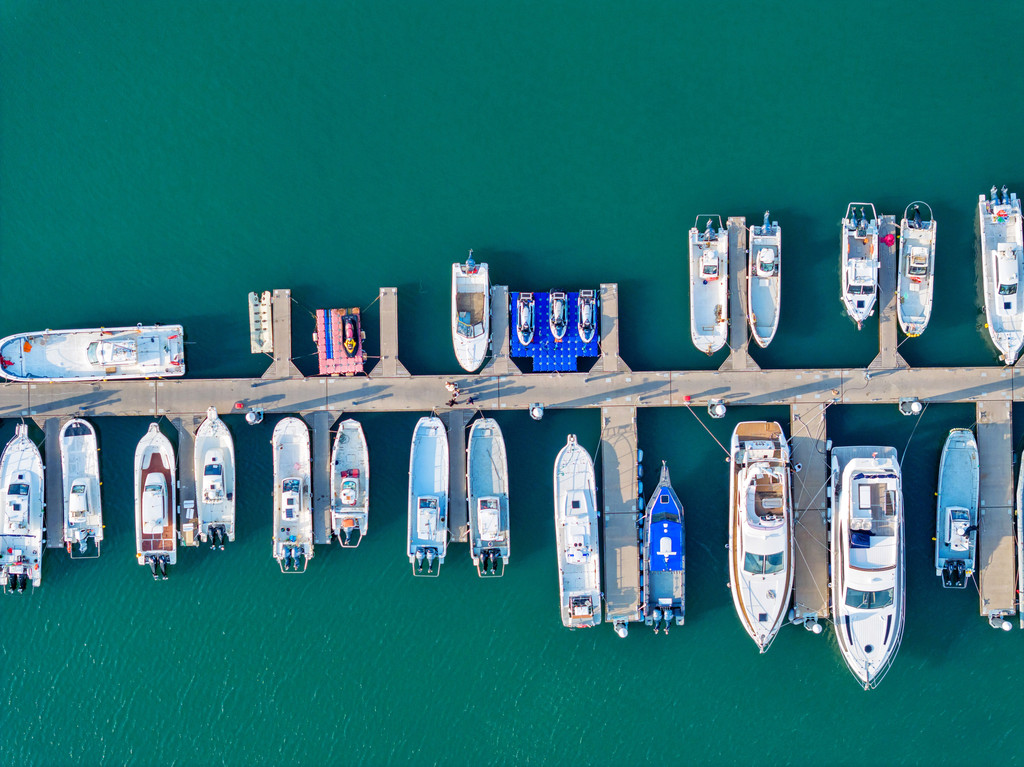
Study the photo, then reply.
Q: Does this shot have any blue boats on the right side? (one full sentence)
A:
Yes, a blue boat can be seen on the right side.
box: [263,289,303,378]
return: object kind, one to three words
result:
pier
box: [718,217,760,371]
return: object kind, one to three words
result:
pier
